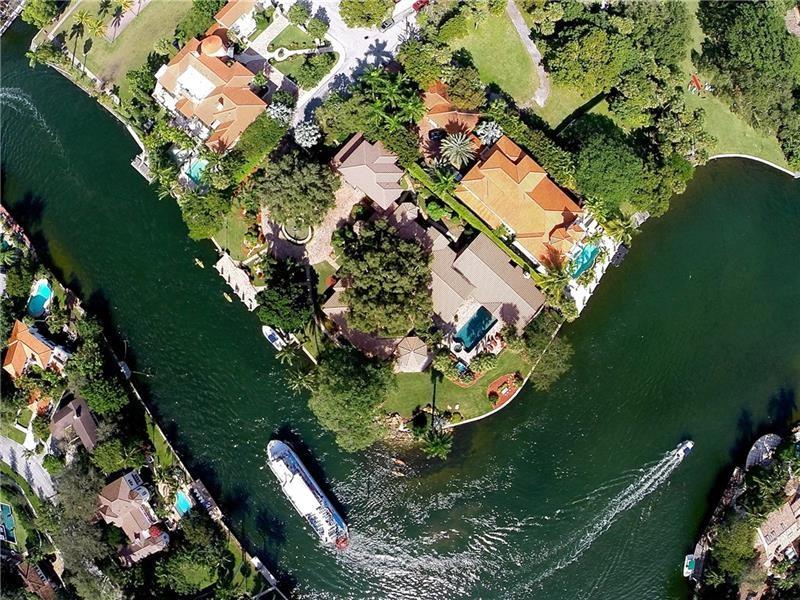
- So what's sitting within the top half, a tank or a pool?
pool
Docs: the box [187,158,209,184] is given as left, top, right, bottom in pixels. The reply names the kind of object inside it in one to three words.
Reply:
swimming pool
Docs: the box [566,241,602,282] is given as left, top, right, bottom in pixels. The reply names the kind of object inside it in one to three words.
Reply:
swimming pool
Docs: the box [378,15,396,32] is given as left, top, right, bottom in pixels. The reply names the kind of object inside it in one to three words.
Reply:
vehicle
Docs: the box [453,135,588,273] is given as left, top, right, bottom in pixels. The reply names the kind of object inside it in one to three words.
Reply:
house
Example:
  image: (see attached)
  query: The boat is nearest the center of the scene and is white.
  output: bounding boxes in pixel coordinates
[265,326,288,352]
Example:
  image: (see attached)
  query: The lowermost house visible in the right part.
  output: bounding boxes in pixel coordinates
[749,491,800,556]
